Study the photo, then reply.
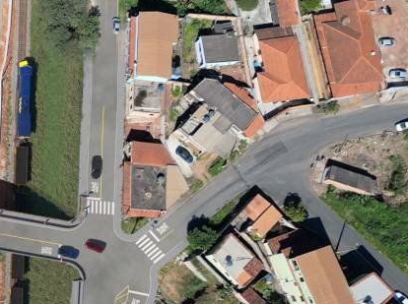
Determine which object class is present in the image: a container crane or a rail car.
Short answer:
rail car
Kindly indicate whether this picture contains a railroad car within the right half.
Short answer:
No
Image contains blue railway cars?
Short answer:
Yes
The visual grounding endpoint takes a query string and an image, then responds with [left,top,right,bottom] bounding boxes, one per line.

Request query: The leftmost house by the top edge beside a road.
[126,13,179,81]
